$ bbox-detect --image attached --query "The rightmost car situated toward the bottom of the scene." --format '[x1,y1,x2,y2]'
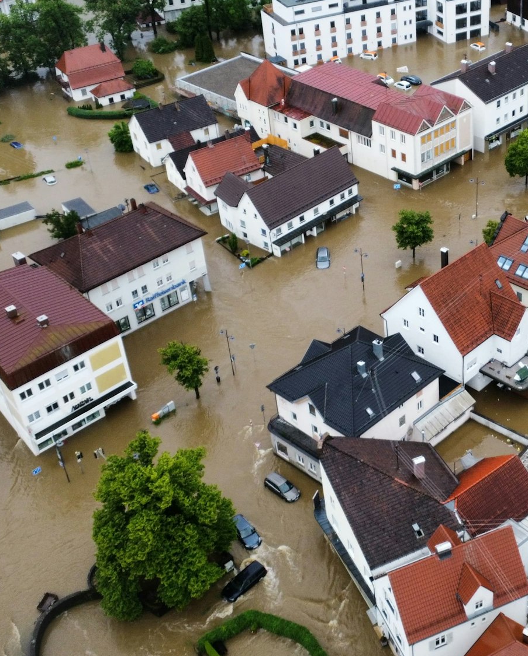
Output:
[259,471,303,505]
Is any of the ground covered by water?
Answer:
Yes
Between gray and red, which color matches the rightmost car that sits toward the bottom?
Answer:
gray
